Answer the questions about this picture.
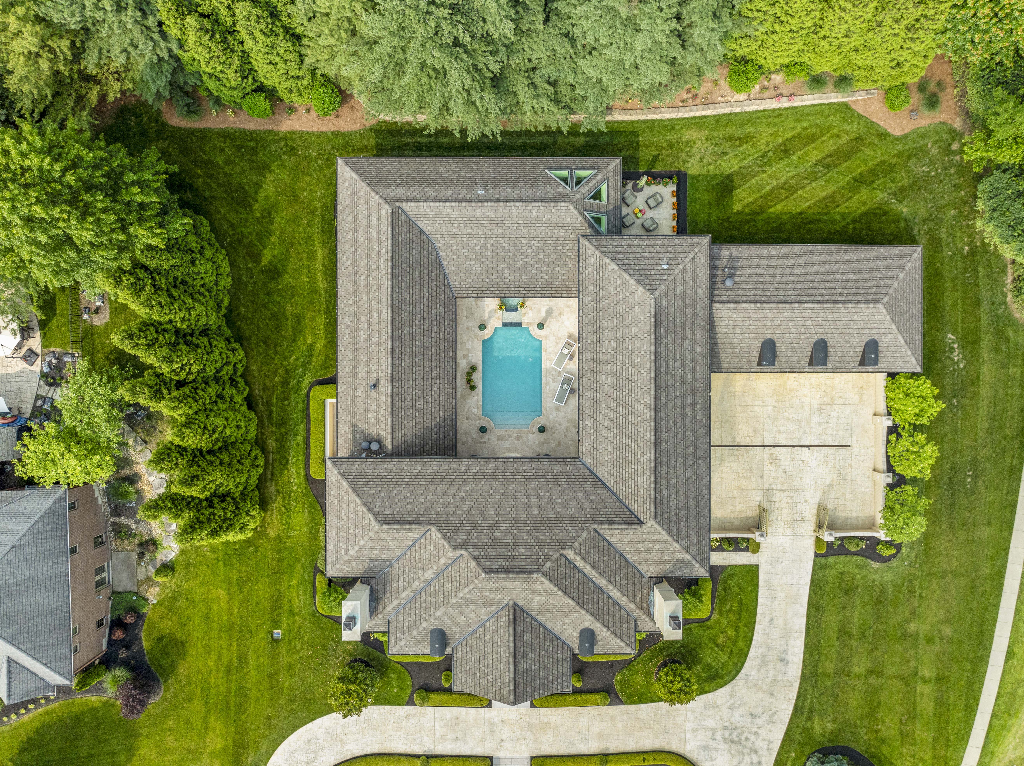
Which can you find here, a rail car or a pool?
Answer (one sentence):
I can see a pool in this picture.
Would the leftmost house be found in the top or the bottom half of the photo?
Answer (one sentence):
The leftmost house is in the bottom half of the image.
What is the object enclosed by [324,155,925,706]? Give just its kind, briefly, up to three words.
house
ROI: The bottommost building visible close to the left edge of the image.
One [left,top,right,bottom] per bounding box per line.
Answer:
[0,484,112,700]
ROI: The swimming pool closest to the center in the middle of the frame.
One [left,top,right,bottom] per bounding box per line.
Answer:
[477,322,547,434]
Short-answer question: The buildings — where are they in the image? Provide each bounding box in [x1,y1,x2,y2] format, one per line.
[324,155,925,706]
[0,484,112,700]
